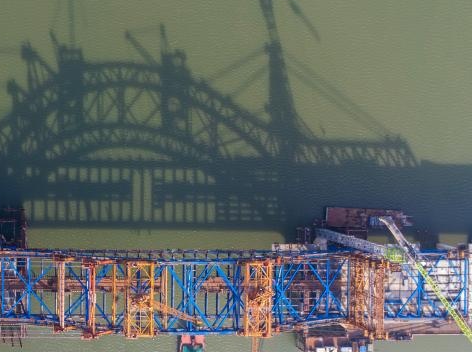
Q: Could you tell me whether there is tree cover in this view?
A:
No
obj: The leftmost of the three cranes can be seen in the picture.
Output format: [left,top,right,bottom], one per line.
[120,256,198,335]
